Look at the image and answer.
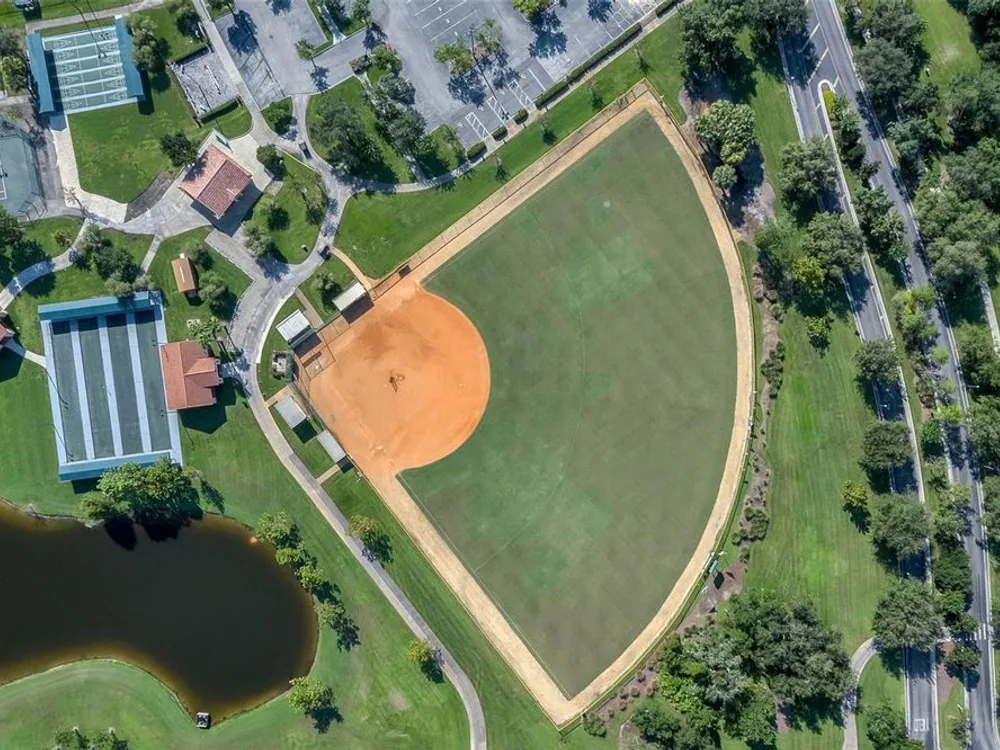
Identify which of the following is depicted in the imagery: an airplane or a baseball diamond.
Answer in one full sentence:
It is a baseball diamond that can be seen here.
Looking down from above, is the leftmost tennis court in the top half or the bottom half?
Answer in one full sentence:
The leftmost tennis court is in the top half of the image.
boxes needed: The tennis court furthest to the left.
[0,116,46,222]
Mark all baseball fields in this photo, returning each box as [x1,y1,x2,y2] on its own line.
[296,80,752,726]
